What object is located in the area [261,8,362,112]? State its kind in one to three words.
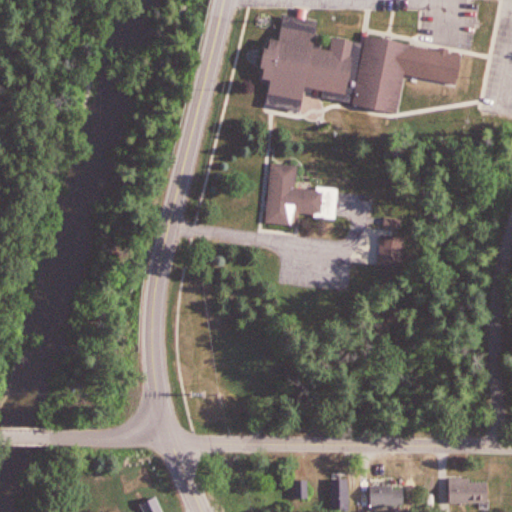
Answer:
building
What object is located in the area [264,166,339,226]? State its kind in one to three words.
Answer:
house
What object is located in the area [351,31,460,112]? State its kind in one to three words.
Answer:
building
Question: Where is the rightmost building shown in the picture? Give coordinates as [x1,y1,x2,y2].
[449,478,489,511]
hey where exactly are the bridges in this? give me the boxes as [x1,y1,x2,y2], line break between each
[0,427,50,448]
